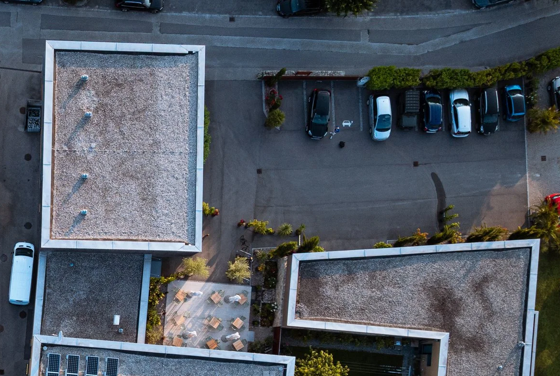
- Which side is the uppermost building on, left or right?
left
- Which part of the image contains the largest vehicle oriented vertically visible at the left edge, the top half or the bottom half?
bottom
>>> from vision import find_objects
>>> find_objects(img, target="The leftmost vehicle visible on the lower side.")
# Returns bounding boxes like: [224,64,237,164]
[11,242,37,306]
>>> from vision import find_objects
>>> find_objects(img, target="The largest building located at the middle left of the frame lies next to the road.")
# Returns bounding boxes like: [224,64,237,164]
[37,41,205,262]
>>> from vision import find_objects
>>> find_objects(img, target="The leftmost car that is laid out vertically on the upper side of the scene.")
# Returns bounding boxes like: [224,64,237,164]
[305,88,330,141]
